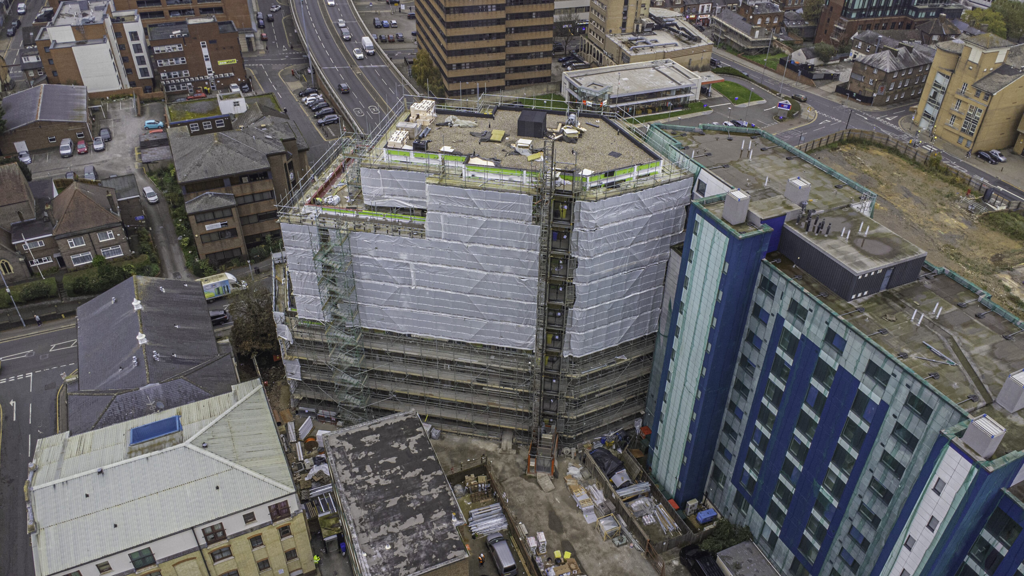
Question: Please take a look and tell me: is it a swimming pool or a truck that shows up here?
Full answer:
Of the two, only a truck appears.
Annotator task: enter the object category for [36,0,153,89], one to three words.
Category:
building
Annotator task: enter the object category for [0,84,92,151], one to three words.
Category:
shed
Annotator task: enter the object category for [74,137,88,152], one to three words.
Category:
car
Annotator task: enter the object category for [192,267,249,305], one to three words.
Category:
truck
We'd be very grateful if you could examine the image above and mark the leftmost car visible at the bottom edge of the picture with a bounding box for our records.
[483,529,524,576]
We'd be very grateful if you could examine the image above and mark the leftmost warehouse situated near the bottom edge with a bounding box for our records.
[15,381,308,576]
